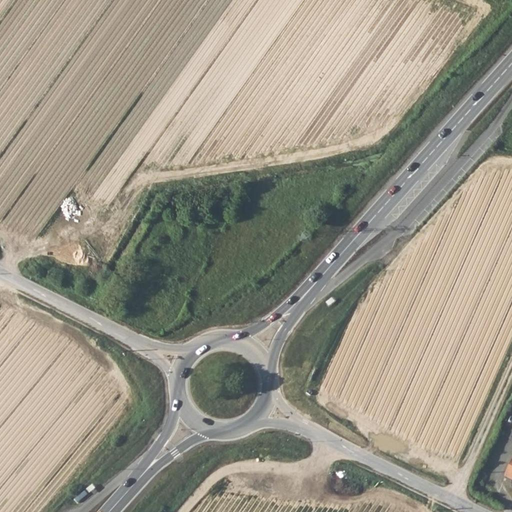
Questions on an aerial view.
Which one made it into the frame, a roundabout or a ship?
roundabout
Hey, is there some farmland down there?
Yes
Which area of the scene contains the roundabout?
bottom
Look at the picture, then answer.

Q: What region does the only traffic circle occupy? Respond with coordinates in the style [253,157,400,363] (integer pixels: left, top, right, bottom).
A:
[143,300,302,471]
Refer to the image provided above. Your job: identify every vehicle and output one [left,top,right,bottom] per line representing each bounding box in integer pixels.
[288,296,297,305]
[76,484,96,500]
[325,253,335,263]
[408,162,418,172]
[172,400,178,410]
[202,418,214,424]
[355,223,364,233]
[310,272,320,282]
[472,91,482,102]
[439,128,450,138]
[196,345,206,355]
[124,478,134,488]
[268,314,278,322]
[388,186,398,195]
[182,368,190,379]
